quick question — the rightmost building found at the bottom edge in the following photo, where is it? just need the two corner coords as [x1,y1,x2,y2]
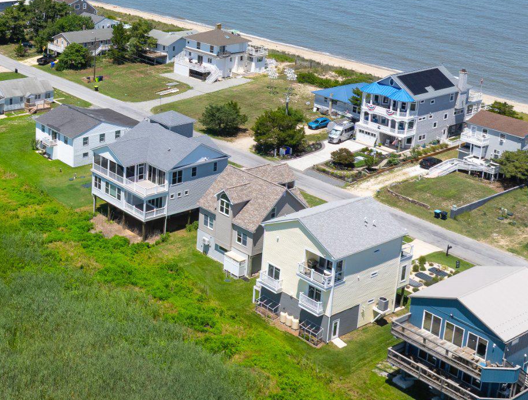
[386,267,528,400]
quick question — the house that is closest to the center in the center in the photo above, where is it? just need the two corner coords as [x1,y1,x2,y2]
[195,165,321,276]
